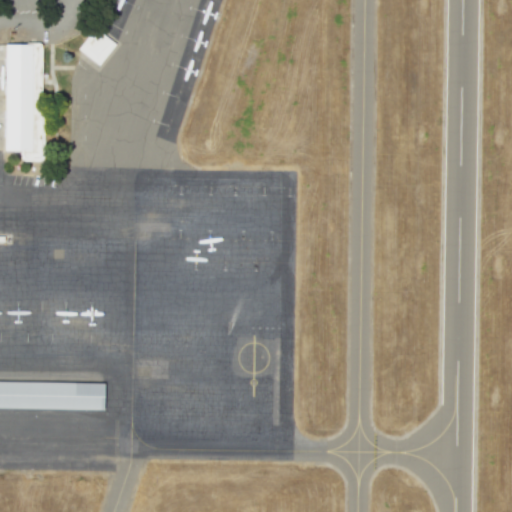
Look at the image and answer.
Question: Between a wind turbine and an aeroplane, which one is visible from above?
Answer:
aeroplane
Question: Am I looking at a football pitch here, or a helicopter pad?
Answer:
helicopter pad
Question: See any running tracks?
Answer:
No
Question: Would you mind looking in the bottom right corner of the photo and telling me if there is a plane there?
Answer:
No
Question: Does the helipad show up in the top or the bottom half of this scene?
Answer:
bottom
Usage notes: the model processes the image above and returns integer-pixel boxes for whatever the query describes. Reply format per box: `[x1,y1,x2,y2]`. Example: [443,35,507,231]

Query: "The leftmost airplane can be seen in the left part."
[6,308,30,324]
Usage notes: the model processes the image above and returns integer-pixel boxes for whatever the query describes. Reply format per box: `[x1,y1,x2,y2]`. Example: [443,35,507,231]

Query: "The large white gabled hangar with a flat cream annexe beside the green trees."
[6,42,45,161]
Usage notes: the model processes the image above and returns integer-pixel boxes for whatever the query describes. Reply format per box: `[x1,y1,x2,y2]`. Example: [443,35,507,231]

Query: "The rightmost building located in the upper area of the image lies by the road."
[80,32,118,66]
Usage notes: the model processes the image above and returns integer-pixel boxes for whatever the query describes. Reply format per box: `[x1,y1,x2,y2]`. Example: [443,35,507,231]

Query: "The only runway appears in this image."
[438,0,482,512]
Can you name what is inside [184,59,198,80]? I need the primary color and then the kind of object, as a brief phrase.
white airplane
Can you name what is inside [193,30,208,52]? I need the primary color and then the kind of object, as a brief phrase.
white airplane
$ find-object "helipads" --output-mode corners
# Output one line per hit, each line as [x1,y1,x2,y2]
[233,336,280,426]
